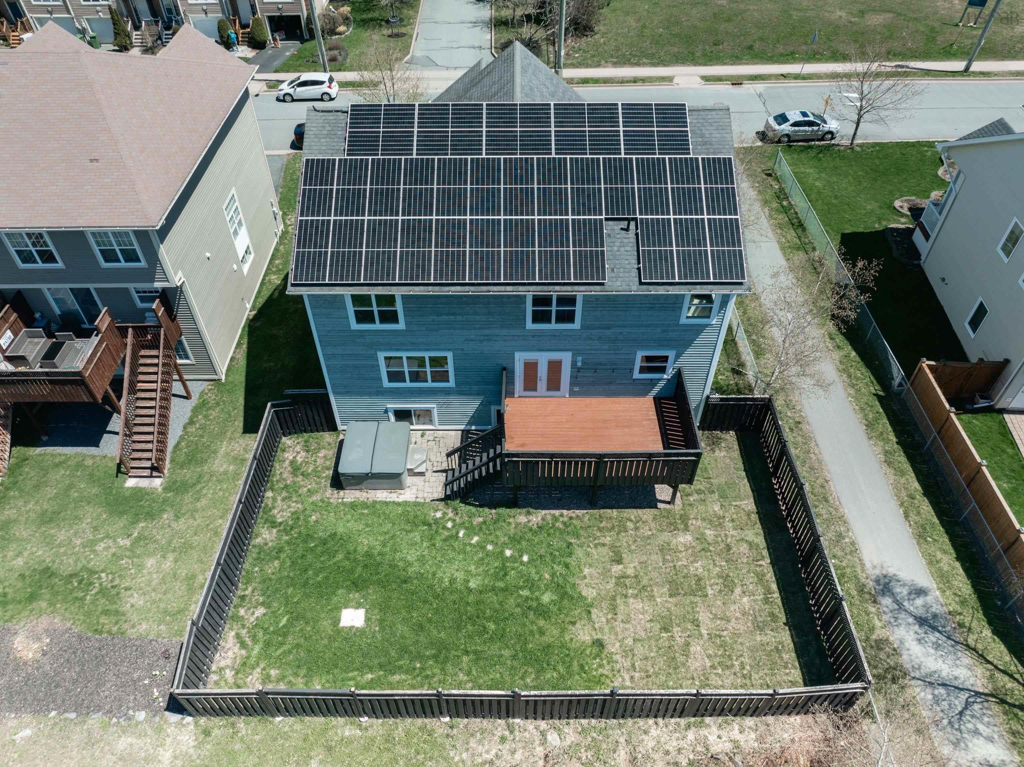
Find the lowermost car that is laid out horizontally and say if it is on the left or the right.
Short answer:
right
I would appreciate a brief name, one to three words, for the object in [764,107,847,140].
car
